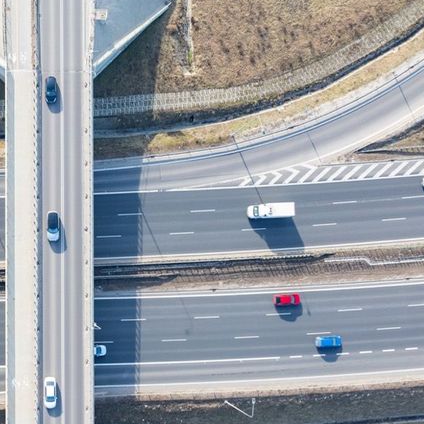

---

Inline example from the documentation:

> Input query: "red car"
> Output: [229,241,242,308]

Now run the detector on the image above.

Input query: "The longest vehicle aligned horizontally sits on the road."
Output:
[244,202,298,218]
